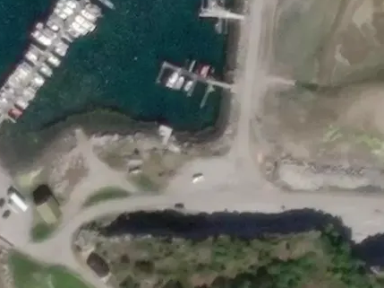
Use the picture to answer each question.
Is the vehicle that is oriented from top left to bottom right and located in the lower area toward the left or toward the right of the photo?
left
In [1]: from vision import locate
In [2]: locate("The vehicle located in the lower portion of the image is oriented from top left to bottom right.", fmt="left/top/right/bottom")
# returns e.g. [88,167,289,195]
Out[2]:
[7,191,27,212]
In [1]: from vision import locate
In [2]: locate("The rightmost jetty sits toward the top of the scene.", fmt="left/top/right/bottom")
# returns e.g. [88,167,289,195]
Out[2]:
[199,0,238,35]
